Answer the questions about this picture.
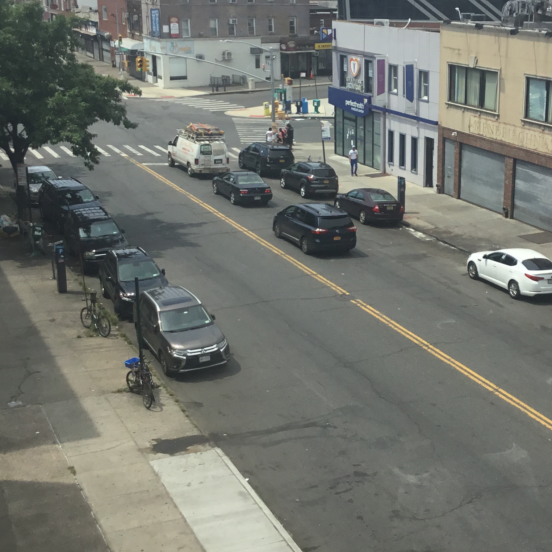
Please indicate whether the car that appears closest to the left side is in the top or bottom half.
top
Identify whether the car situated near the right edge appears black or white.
white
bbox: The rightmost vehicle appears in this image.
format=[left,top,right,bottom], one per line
[460,245,552,300]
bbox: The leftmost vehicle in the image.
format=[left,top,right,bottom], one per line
[20,167,62,204]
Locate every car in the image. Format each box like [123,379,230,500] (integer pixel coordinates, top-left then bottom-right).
[92,243,171,314]
[60,204,129,269]
[135,286,233,378]
[460,245,552,300]
[210,170,271,206]
[20,167,62,204]
[234,137,293,174]
[270,201,355,254]
[278,159,340,197]
[330,185,405,224]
